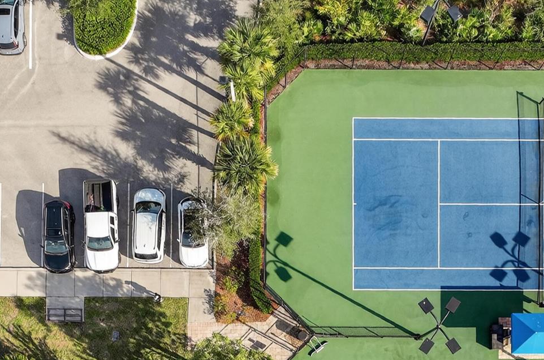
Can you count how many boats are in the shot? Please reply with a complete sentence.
I count no boats.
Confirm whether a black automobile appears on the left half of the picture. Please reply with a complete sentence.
Yes, you'll find a black automobile on the left half of the picture.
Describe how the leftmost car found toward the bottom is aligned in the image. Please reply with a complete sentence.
Seen from above, the leftmost car found toward the bottom lies vertically.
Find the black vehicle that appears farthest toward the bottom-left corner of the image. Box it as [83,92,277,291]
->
[38,198,76,277]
